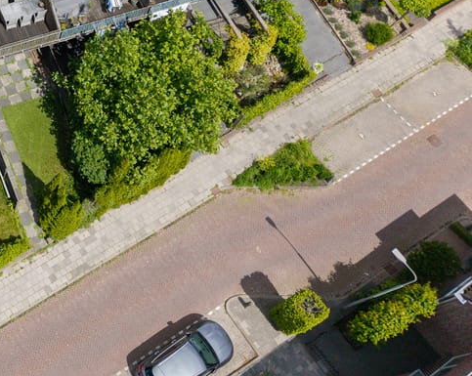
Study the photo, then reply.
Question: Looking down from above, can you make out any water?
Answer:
No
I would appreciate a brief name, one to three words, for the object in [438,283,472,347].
house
